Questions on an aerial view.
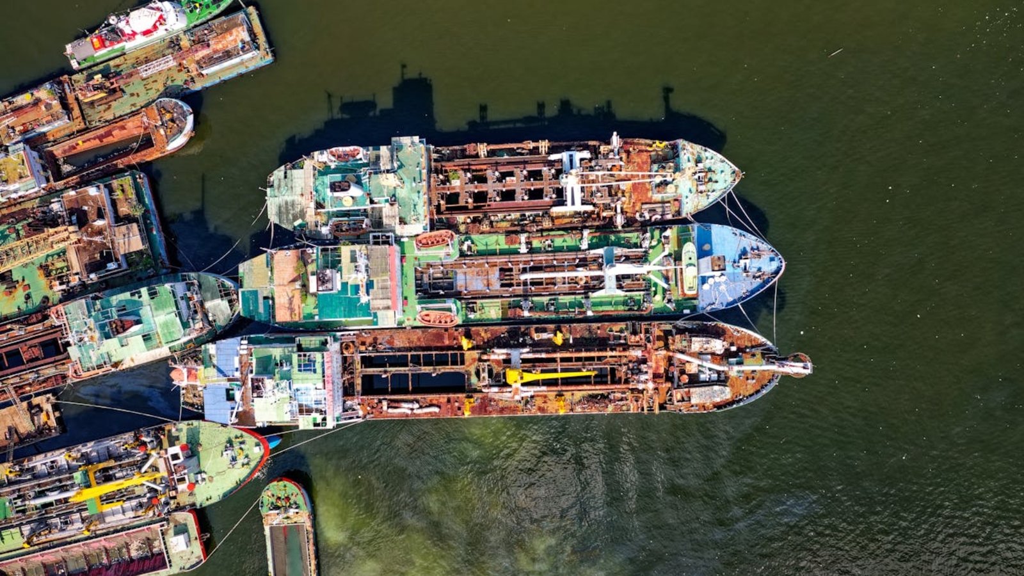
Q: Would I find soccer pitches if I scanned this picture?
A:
No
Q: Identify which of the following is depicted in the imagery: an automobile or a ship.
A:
ship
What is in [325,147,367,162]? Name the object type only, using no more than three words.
boat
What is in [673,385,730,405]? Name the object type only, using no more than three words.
boat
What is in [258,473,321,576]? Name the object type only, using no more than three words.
ship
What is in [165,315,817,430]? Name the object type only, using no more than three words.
ship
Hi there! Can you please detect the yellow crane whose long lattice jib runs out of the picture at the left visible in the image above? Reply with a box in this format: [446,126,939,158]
[0,222,94,273]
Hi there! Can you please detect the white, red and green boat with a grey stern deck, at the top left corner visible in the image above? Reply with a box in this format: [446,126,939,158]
[61,0,247,72]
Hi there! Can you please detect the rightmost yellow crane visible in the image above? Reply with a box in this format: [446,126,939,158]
[507,366,599,385]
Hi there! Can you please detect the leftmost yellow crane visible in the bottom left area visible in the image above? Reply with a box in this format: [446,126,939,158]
[69,458,172,514]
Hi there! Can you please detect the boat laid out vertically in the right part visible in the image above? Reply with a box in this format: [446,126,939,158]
[680,243,697,295]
